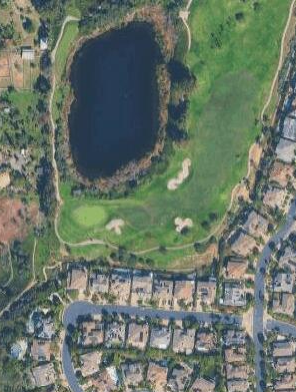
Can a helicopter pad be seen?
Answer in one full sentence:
No, no helicopter pad can be seen from above.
